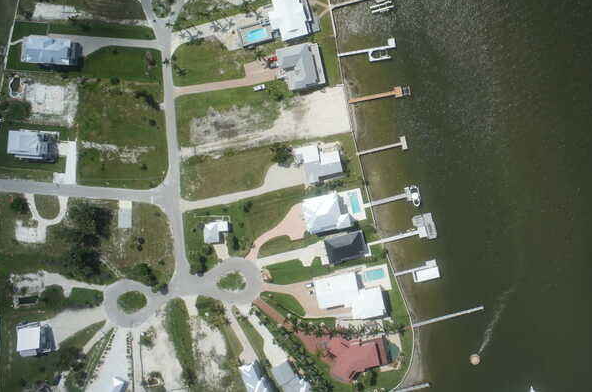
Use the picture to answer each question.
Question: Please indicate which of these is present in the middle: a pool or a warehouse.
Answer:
pool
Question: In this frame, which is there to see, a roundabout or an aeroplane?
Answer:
roundabout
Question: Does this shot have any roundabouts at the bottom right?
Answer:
No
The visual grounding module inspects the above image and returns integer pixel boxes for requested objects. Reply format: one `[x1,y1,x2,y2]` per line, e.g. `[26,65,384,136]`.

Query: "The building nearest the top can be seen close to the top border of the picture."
[268,0,320,41]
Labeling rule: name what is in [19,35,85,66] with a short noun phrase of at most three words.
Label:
house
